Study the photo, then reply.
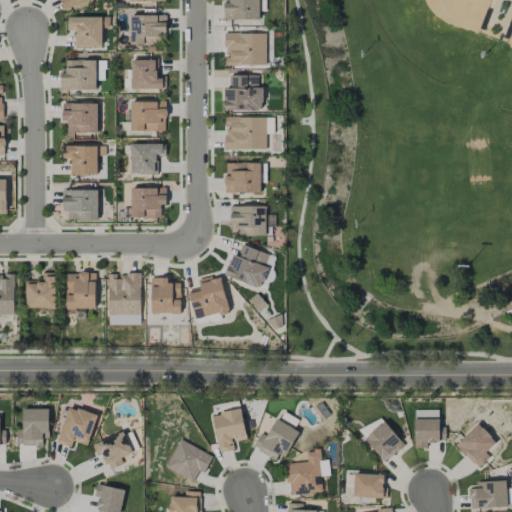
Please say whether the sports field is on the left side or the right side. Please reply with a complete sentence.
The sports field sits on the right side.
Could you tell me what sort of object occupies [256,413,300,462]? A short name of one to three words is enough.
house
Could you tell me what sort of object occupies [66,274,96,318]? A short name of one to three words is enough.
house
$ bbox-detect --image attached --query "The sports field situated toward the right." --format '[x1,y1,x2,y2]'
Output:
[343,0,512,314]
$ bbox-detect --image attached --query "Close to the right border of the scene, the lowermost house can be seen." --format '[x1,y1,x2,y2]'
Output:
[472,482,512,510]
